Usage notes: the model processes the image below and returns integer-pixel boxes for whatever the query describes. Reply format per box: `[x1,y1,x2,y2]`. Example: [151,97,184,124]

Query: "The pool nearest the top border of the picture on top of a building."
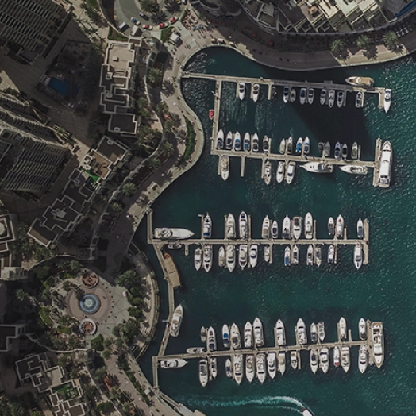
[395,0,416,18]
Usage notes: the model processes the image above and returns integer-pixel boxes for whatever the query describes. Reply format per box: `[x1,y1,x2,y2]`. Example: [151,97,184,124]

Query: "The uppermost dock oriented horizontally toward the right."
[181,72,383,153]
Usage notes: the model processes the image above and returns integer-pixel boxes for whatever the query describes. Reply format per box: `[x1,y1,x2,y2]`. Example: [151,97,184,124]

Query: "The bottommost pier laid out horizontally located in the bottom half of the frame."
[151,322,374,390]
